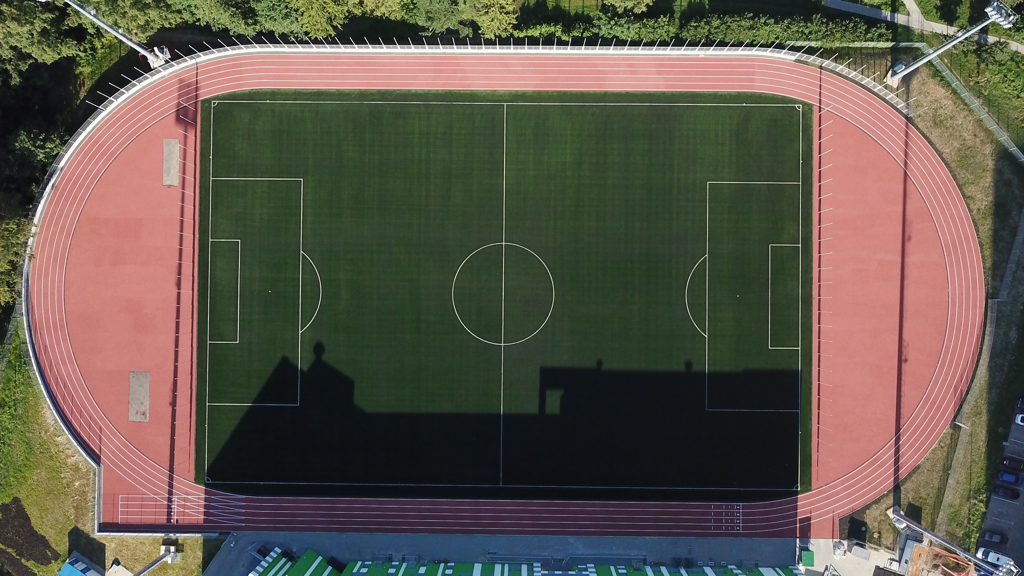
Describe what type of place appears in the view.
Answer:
sports ground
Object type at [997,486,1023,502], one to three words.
car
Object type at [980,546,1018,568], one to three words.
vehicle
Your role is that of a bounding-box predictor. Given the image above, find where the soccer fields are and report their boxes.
[195,90,813,502]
